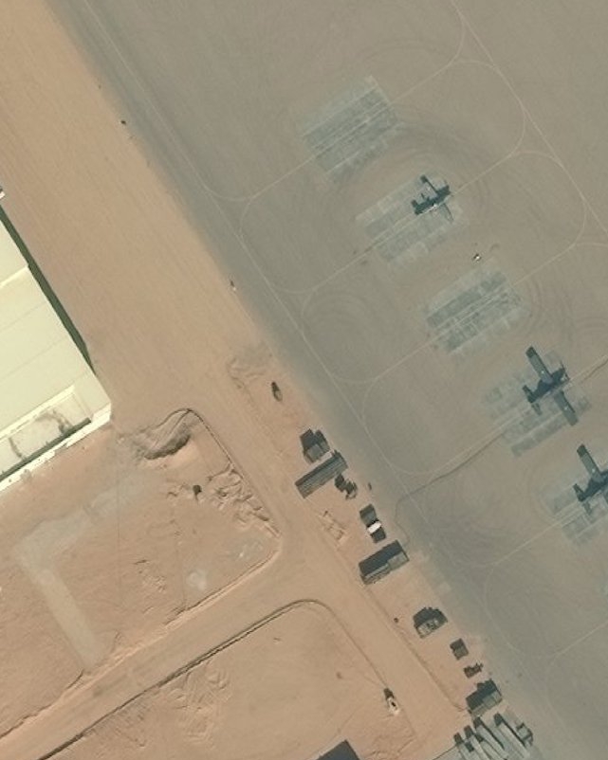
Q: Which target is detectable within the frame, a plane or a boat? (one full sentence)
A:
This aerial view contains a plane.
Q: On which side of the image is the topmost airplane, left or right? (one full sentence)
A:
It is on the right.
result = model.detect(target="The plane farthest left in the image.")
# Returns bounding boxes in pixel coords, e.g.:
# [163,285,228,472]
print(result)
[410,182,453,229]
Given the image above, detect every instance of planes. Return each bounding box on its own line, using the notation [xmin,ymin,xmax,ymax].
[410,182,453,229]
[574,454,608,513]
[524,356,577,423]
